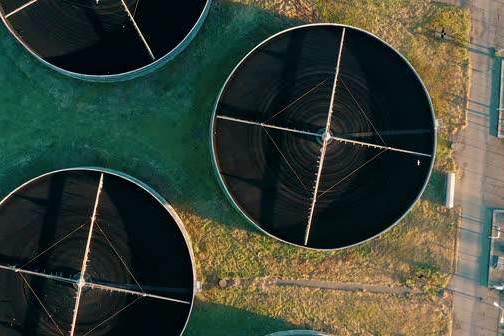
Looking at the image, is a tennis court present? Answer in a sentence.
No, there is no tennis court in the image.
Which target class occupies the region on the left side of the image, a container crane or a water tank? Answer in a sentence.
It is a water tank that can be seen on the left side of the image.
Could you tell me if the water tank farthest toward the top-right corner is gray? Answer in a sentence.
No, the water tank farthest toward the top-right corner is black.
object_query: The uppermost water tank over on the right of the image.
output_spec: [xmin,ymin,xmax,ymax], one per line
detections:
[210,24,437,250]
